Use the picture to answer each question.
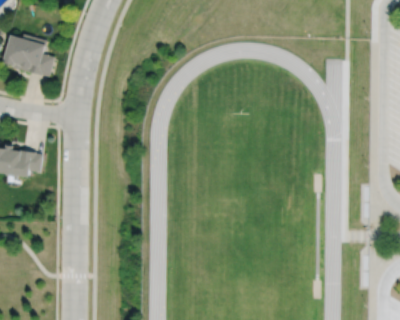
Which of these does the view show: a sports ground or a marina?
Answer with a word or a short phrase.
sports ground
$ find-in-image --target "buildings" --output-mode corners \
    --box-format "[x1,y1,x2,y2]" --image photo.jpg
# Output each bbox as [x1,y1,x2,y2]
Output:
[4,34,53,80]
[0,145,42,178]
